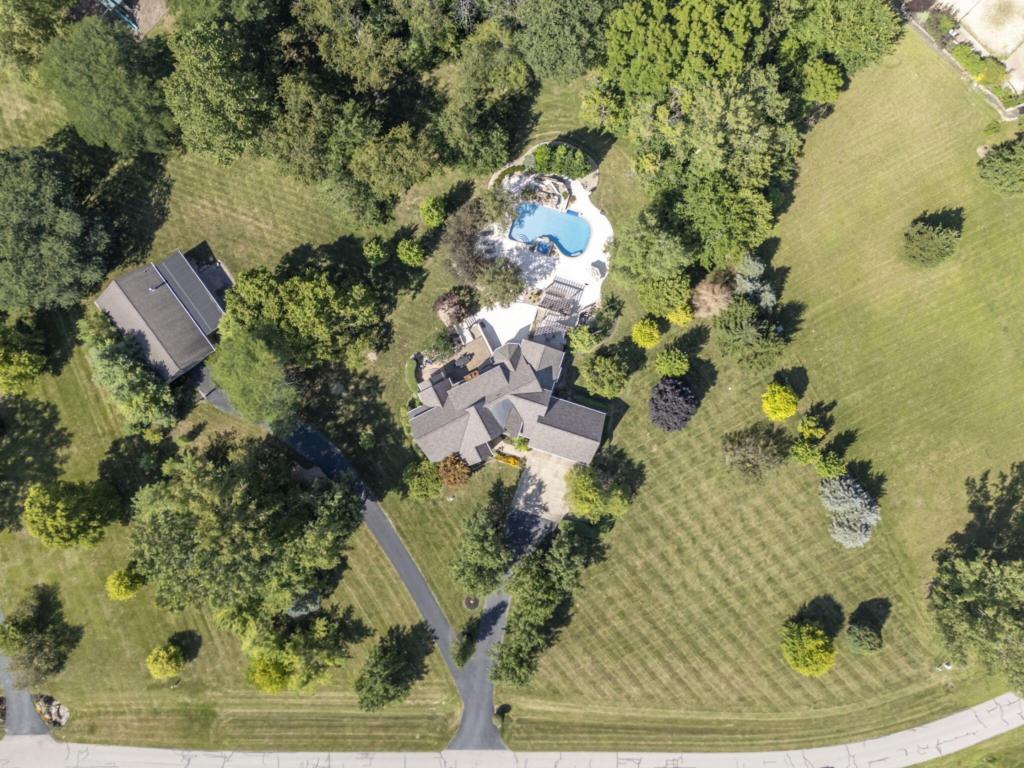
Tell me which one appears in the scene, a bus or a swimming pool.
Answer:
swimming pool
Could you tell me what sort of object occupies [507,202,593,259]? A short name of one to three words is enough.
swimming pool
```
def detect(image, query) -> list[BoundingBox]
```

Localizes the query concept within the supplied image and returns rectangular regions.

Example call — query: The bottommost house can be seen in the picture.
[408,339,606,467]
